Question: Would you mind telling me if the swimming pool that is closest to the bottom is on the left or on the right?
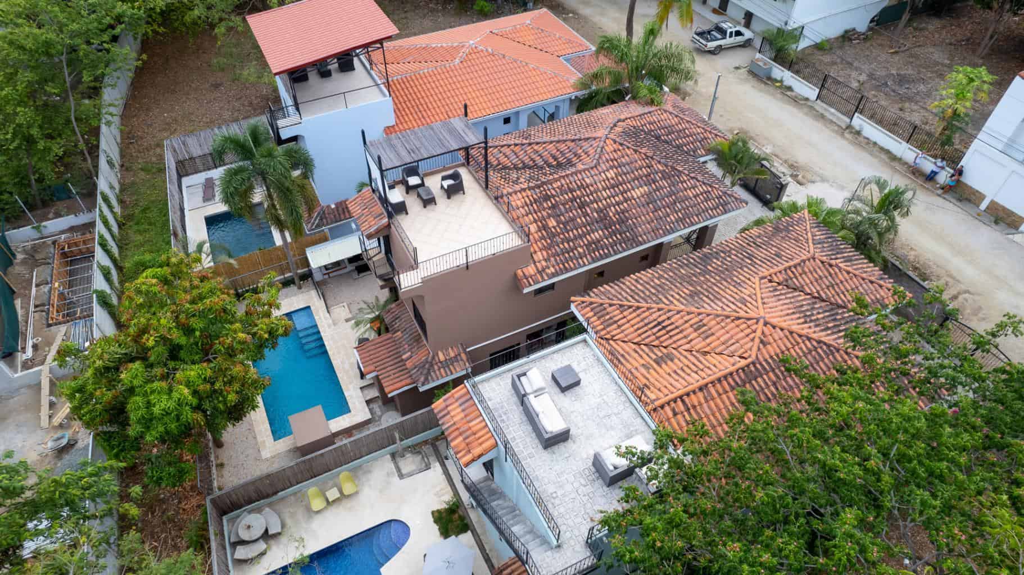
left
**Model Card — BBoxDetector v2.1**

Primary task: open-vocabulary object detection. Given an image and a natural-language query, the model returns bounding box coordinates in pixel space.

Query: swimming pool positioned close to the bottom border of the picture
[267,516,410,575]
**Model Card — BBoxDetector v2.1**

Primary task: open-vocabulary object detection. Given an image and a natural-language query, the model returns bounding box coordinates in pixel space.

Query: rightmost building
[949,77,1024,234]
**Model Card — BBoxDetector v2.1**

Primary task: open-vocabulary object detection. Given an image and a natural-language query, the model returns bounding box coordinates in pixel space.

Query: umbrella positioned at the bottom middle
[422,534,480,575]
